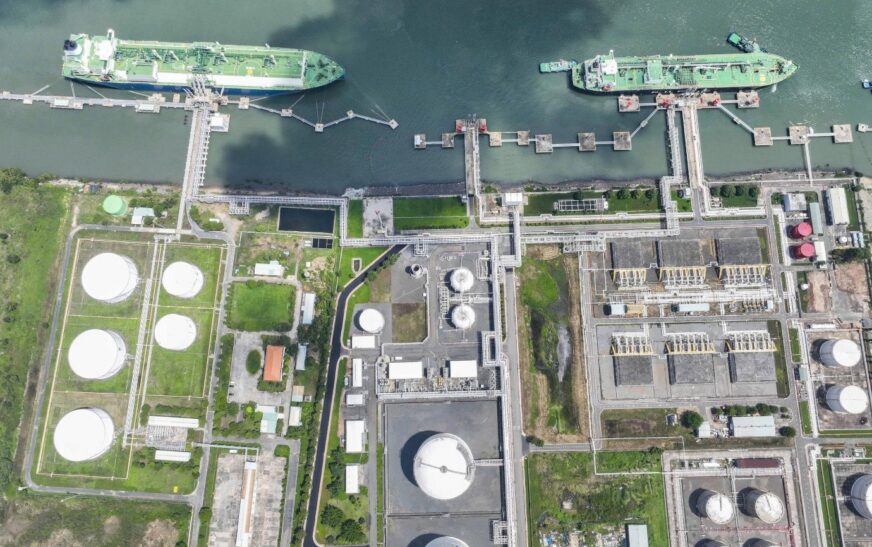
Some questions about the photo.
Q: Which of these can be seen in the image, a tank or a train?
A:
tank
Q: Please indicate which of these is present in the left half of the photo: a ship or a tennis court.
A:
ship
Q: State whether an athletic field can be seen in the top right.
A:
No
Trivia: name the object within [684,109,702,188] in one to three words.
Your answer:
pier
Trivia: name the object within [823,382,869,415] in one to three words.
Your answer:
storage tank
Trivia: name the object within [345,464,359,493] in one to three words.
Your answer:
building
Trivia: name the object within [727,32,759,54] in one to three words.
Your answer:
boat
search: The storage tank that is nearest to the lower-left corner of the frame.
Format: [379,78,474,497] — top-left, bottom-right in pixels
[52,406,118,463]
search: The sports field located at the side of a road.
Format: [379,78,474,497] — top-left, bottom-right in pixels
[228,284,292,329]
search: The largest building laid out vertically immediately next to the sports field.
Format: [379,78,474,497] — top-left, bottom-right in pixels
[264,345,284,382]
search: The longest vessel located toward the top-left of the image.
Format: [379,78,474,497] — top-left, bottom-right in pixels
[58,30,344,95]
